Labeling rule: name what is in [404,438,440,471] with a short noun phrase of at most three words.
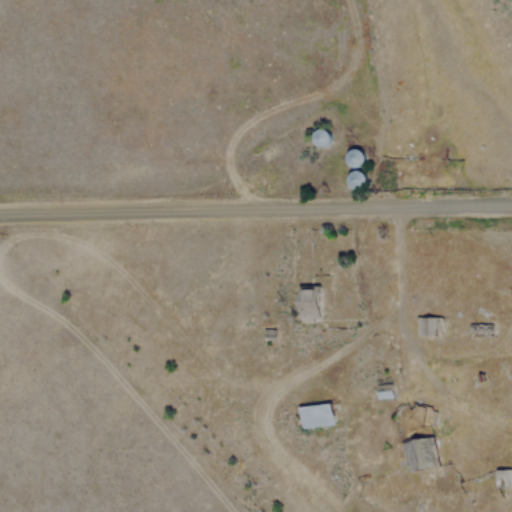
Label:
barn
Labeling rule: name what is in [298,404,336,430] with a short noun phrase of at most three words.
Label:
house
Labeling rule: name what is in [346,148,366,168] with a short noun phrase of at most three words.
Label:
silo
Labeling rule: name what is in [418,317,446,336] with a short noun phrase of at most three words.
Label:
barn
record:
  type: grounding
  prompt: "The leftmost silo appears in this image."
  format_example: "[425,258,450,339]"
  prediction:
[312,128,334,149]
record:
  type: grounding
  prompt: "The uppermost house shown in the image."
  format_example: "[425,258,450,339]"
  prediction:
[296,288,324,324]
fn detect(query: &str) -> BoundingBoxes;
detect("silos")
[312,128,334,149]
[347,170,368,190]
[346,148,366,168]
